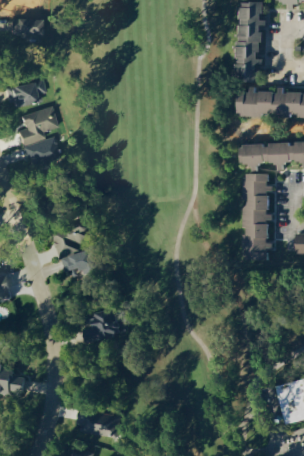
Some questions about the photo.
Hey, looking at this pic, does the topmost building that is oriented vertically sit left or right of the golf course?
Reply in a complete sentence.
The topmost building that is oriented vertically is to the right of the golf course.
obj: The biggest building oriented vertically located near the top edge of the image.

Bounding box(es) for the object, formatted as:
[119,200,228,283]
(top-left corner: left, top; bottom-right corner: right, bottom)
[233,1,266,84]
